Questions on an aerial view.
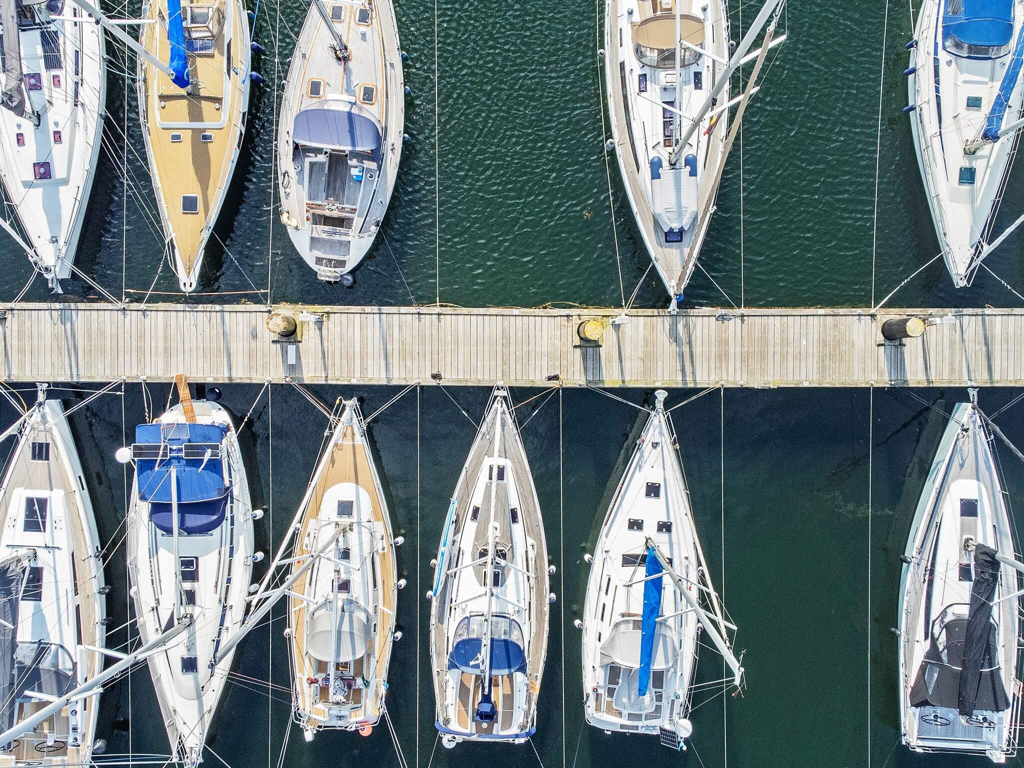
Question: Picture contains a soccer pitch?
No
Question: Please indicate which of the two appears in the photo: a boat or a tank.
boat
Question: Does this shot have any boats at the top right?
Yes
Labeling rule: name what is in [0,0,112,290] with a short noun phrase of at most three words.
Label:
boat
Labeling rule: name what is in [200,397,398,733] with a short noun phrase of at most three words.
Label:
boat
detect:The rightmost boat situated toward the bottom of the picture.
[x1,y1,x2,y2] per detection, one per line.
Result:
[892,388,1024,761]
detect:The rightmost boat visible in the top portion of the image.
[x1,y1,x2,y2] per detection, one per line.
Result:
[905,0,1024,294]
